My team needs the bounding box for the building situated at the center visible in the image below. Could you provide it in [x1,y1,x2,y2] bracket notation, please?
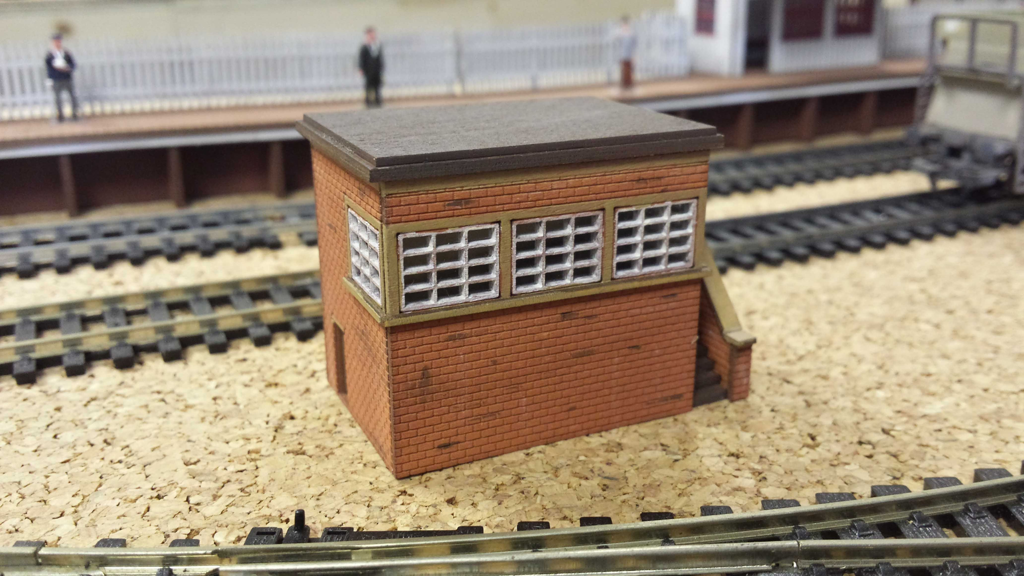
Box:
[299,98,742,477]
